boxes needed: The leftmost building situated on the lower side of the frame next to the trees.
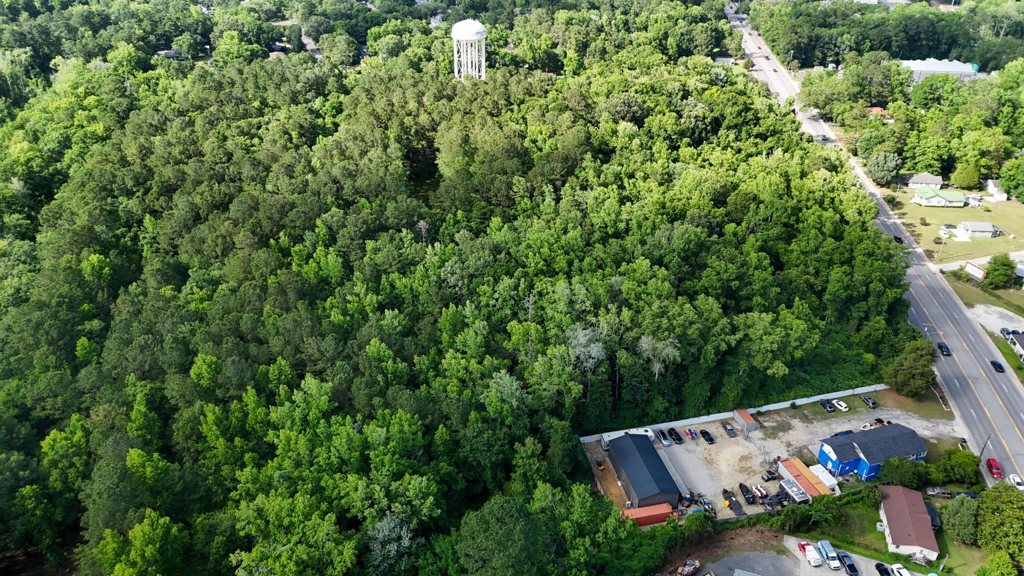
[608,434,681,508]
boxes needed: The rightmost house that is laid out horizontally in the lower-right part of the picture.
[815,425,932,481]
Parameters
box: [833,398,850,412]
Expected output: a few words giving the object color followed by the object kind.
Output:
white car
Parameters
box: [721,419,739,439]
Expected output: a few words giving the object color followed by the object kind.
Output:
gray vehicle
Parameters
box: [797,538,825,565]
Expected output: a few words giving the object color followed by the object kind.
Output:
white truck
